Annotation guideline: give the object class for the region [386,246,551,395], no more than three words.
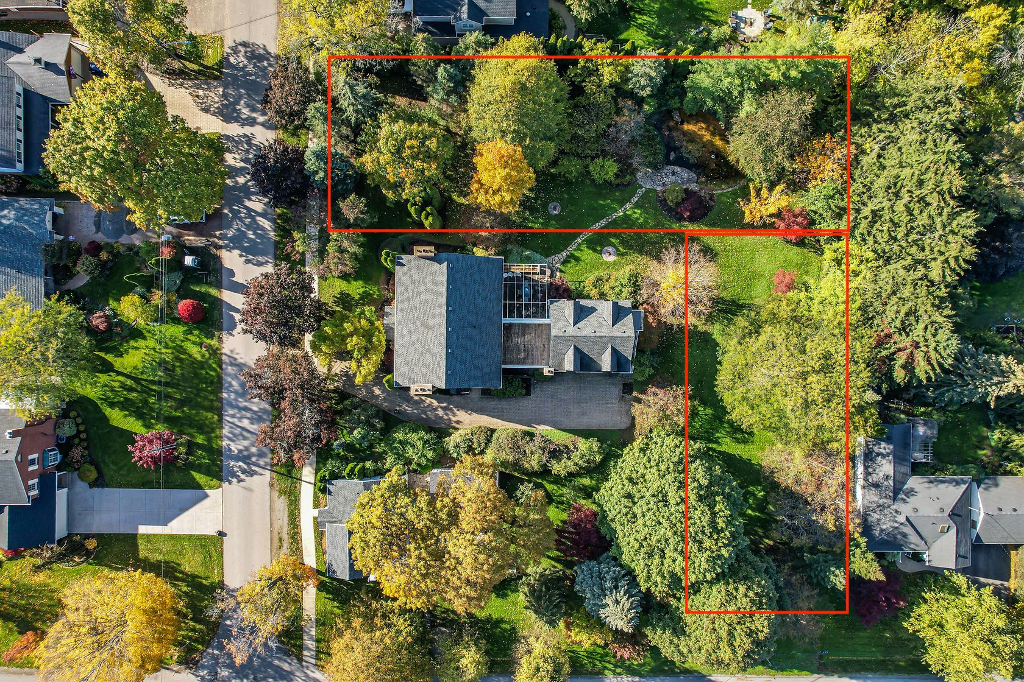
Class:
house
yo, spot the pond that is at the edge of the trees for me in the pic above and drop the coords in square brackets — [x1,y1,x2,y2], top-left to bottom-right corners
[644,104,745,183]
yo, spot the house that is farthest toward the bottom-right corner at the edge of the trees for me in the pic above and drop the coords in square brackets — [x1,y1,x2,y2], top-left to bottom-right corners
[855,423,1024,573]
